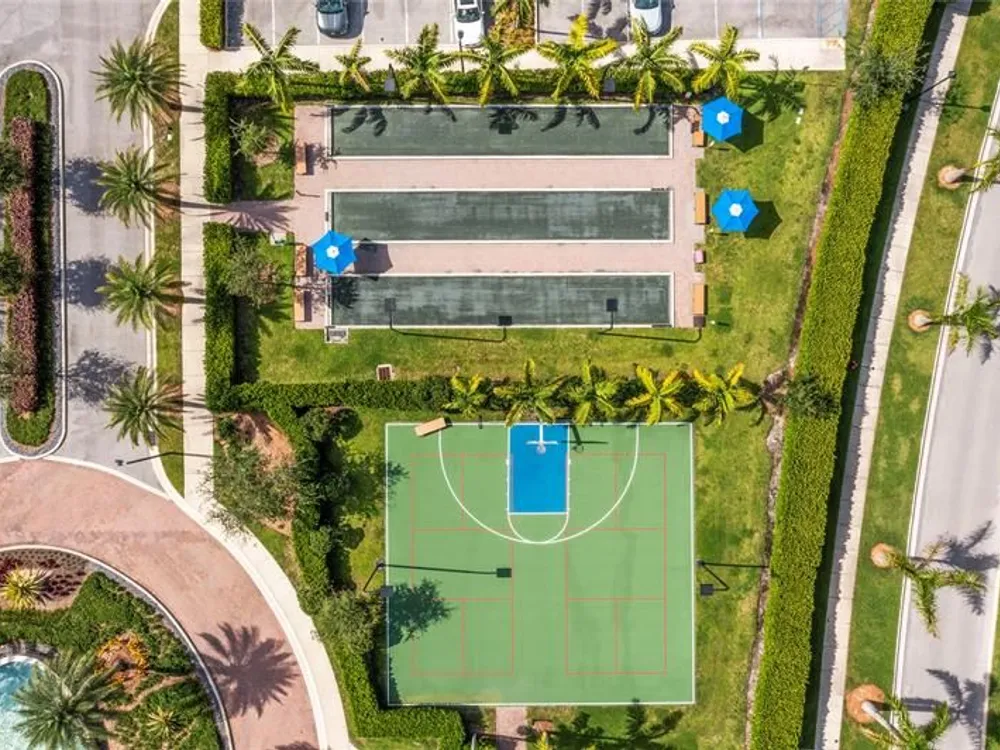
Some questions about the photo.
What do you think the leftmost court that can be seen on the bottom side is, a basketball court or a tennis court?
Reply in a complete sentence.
Looking closely, the leftmost court that can be seen on the bottom side is a basketball court.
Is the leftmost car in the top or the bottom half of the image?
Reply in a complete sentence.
You can find the leftmost car in the top half.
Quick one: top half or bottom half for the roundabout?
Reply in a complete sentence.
The bottom half of the photo is where the roundabout is.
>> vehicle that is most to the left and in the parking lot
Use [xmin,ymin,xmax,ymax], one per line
[312,0,350,37]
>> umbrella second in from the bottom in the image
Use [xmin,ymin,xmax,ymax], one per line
[711,191,757,232]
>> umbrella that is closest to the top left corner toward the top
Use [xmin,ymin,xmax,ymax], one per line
[313,230,356,276]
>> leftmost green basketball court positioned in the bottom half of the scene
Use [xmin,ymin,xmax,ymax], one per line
[387,424,693,705]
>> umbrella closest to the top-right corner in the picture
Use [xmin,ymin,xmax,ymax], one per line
[700,98,740,145]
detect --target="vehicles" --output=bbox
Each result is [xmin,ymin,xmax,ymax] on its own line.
[312,0,350,37]
[628,0,665,34]
[451,0,489,49]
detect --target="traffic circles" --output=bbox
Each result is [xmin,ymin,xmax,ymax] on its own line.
[0,449,329,750]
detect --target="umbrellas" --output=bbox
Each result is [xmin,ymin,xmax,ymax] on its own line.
[711,191,757,232]
[700,98,740,145]
[313,230,356,276]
